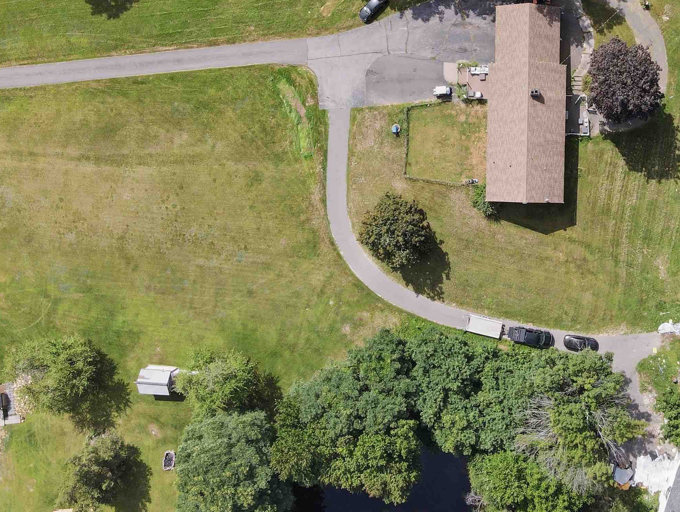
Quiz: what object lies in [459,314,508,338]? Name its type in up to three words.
trailer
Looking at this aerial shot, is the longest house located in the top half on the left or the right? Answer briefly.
right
